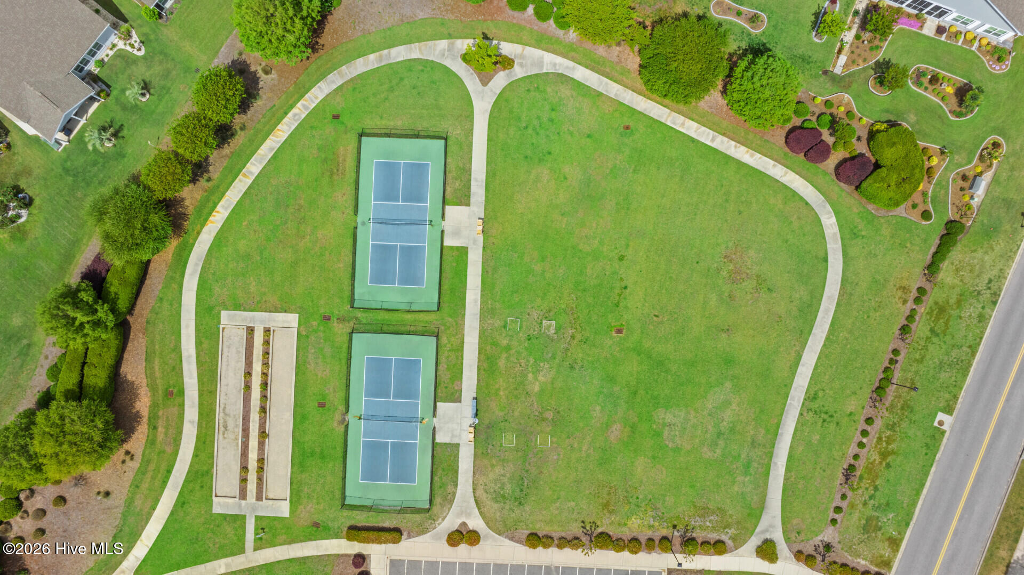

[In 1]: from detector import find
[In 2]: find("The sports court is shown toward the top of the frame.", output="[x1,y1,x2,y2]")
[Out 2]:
[354,136,445,311]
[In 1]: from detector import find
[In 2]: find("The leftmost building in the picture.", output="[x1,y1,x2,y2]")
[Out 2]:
[0,0,120,150]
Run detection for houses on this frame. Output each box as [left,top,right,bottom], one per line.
[142,0,176,15]
[894,0,1024,41]
[0,0,120,150]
